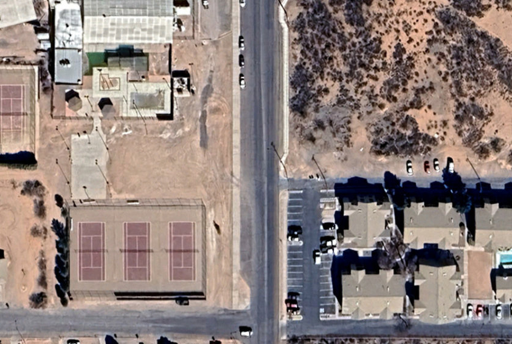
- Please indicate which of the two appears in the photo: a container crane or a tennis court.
tennis court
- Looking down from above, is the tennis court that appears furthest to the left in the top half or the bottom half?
top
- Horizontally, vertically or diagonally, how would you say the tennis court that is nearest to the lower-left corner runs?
vertically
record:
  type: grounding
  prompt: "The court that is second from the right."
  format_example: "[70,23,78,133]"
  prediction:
[166,222,200,282]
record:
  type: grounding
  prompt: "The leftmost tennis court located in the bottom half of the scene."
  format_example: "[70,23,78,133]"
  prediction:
[75,222,106,282]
